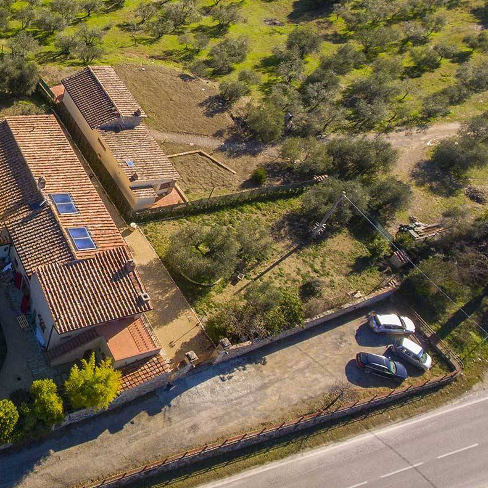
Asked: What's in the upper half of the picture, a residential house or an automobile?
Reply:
residential house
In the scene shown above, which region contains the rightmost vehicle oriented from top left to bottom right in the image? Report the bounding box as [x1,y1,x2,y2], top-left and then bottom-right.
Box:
[386,335,436,372]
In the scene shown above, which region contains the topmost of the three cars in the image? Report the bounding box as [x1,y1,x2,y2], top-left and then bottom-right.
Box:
[365,315,416,339]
